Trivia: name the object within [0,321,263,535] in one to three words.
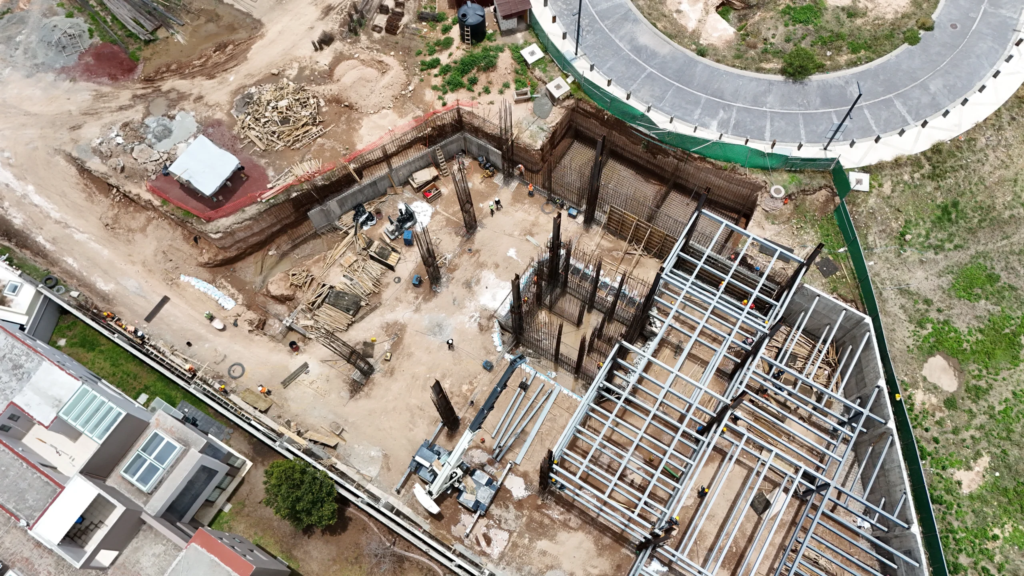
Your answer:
house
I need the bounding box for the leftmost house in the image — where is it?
[0,262,65,331]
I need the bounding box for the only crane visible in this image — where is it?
[391,347,528,541]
